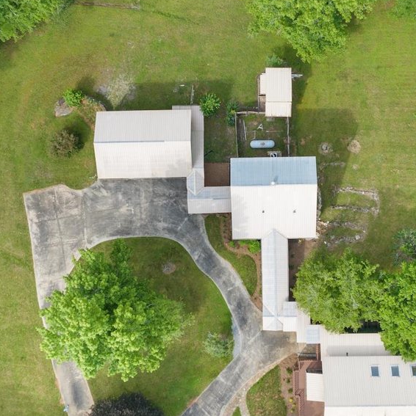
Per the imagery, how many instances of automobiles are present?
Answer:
0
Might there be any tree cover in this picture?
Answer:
Yes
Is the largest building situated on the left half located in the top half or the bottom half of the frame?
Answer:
top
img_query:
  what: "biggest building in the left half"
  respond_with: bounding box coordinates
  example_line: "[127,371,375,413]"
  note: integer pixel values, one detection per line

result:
[94,109,192,178]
